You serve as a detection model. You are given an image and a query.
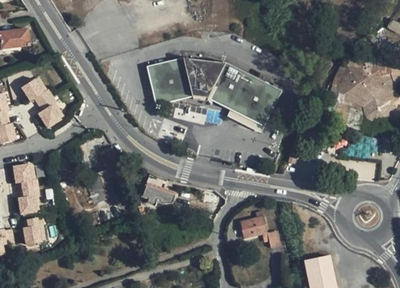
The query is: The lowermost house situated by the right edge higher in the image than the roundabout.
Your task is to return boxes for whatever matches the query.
[331,64,394,118]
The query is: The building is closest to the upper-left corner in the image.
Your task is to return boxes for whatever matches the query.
[0,27,31,48]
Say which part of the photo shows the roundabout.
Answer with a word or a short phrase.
bottom right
